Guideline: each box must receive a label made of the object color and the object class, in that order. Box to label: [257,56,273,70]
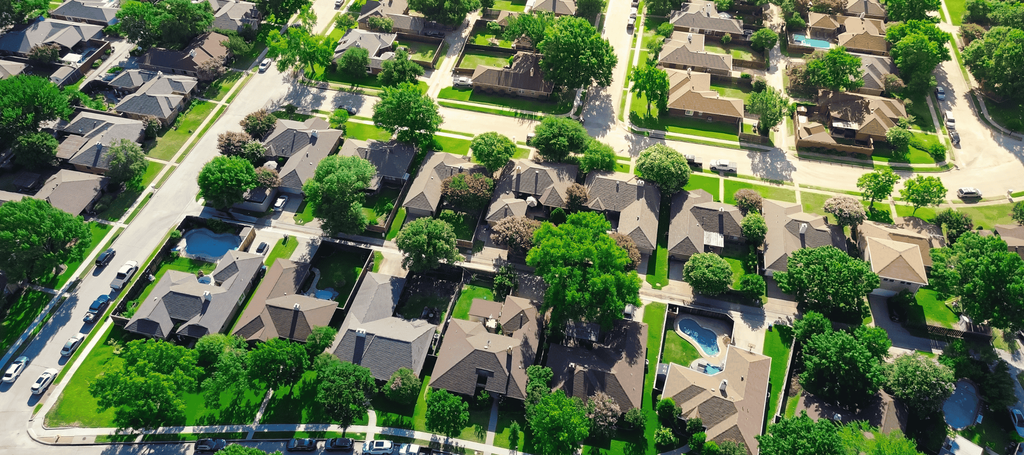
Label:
white car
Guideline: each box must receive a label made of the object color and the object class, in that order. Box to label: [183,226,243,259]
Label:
blue swimming pool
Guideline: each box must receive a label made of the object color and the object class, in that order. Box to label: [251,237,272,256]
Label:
white car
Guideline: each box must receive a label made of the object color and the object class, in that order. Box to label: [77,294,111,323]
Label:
blue truck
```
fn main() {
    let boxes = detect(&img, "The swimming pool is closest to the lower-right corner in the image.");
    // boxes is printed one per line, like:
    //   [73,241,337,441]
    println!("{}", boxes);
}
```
[940,376,983,432]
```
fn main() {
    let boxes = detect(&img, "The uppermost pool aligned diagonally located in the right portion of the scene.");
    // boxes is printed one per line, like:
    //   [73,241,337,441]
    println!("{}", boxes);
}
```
[675,315,723,359]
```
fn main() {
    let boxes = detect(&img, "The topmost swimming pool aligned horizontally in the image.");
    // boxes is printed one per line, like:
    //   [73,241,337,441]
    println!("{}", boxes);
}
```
[793,34,831,48]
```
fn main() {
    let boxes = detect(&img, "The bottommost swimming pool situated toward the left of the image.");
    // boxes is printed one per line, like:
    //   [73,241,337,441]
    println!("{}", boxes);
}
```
[314,288,335,301]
